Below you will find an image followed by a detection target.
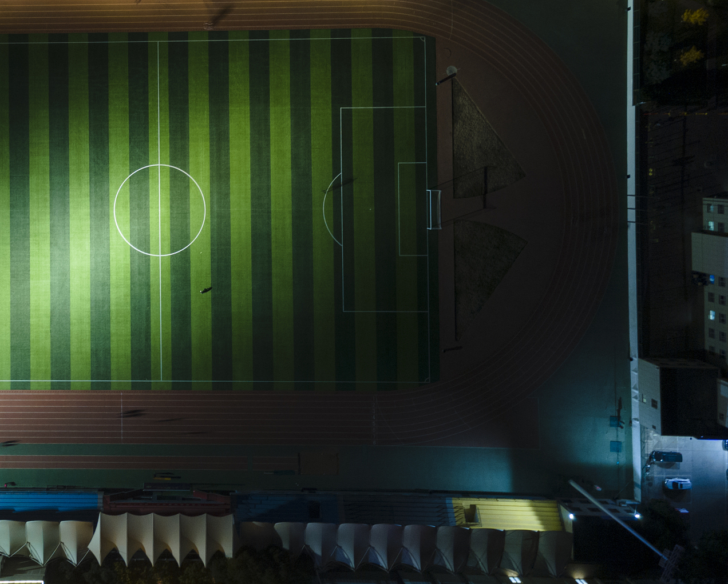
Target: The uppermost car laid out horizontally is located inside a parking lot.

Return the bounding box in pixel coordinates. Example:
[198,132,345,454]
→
[651,451,679,464]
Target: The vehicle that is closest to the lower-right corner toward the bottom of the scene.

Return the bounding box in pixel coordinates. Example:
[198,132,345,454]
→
[665,479,691,491]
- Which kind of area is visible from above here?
sports ground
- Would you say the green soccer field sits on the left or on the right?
left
